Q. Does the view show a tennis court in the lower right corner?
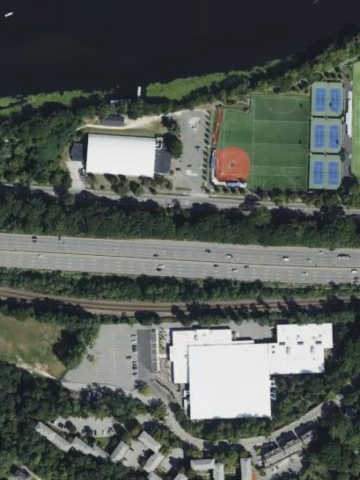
No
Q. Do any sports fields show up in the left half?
No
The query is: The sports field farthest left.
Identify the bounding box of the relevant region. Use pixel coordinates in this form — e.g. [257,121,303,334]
[211,95,308,191]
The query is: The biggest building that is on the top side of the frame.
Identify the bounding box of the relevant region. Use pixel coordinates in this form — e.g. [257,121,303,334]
[87,134,157,178]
